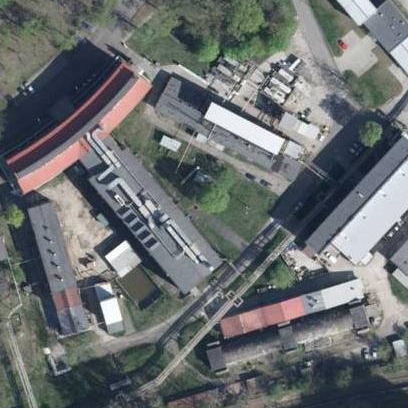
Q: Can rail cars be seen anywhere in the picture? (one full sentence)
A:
No, there's no rail car here.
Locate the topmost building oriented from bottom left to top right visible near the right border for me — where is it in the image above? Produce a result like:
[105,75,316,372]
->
[300,130,408,268]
